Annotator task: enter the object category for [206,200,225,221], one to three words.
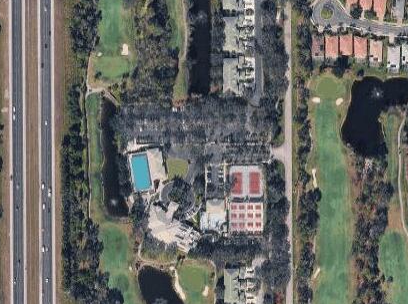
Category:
building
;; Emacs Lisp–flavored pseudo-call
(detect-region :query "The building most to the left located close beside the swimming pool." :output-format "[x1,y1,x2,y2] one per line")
[148,199,202,244]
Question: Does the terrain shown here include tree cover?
Yes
